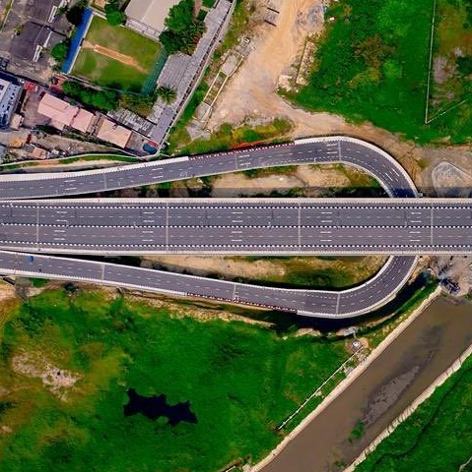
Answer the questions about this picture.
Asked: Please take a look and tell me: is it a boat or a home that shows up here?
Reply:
home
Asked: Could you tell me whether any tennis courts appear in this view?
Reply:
No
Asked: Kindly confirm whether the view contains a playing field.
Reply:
Yes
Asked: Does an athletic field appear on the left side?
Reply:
Yes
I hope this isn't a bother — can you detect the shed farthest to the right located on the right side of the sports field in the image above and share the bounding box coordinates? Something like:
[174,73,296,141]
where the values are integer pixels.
[193,0,234,53]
